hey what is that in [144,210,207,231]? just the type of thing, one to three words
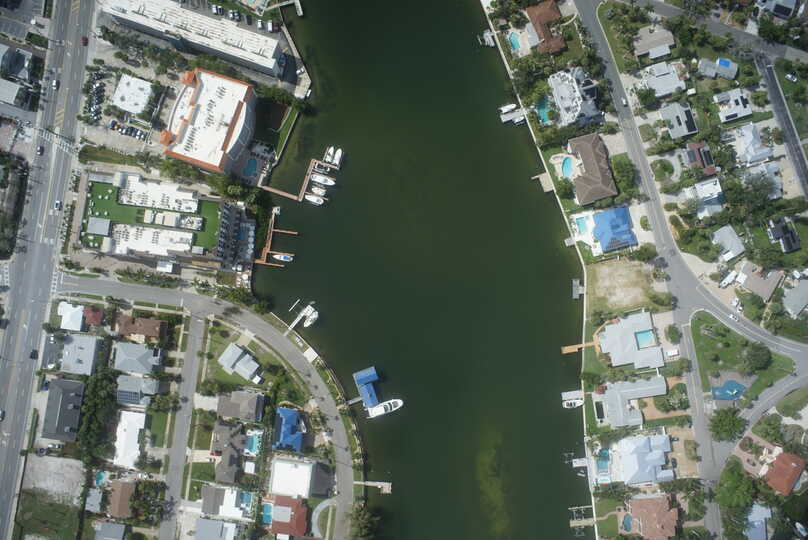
building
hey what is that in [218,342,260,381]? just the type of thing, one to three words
house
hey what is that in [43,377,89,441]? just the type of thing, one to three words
building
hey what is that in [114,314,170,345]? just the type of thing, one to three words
house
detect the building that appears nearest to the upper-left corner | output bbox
[0,43,37,83]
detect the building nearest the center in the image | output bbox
[351,367,379,407]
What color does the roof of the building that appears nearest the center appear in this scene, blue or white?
blue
